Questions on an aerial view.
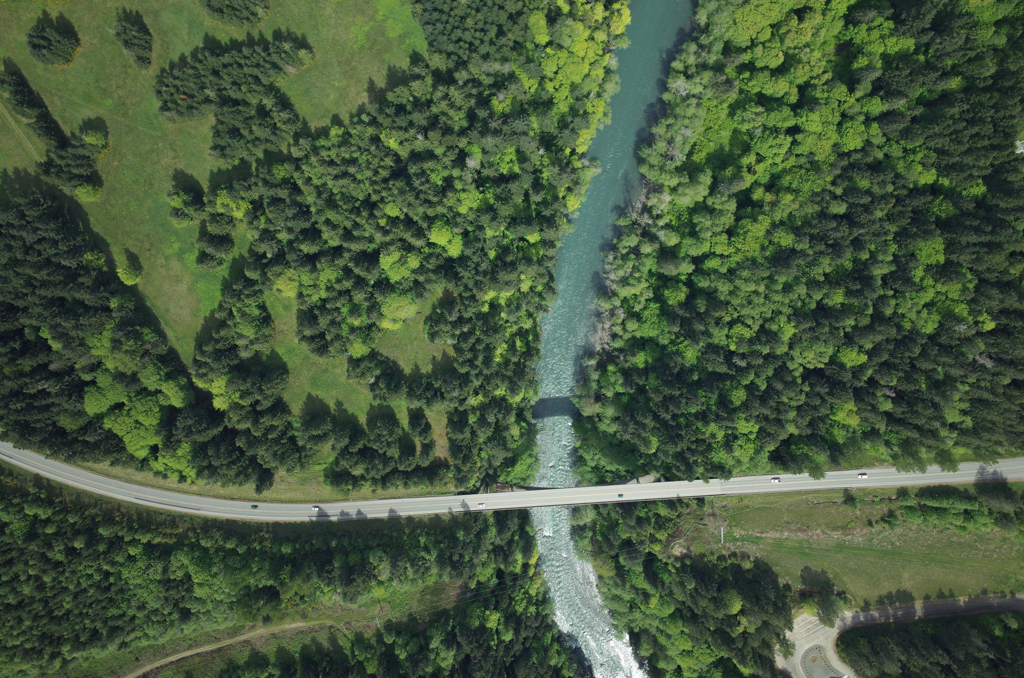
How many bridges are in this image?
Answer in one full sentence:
The picture shows 1 bridge.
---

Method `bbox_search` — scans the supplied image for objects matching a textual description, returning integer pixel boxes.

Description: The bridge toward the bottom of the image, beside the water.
[457,466,722,514]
